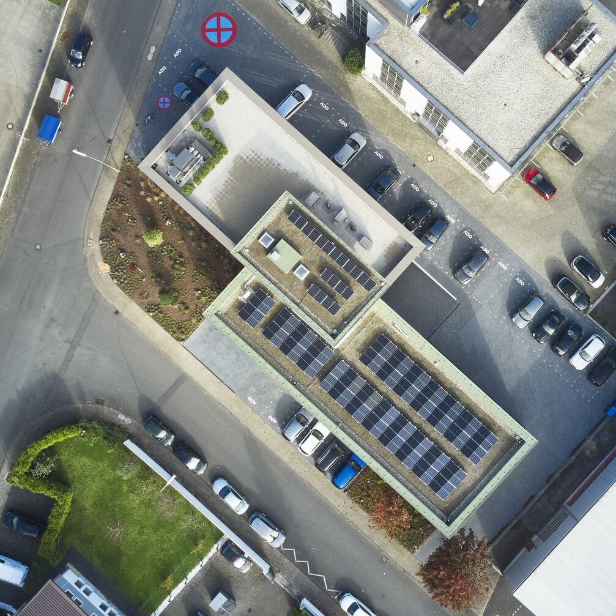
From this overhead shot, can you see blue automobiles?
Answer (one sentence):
Yes, there's a blue automobile down there.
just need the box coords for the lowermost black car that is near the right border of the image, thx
[588,347,616,387]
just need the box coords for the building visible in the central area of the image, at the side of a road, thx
[140,69,538,539]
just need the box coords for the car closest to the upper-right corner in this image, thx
[550,134,584,168]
